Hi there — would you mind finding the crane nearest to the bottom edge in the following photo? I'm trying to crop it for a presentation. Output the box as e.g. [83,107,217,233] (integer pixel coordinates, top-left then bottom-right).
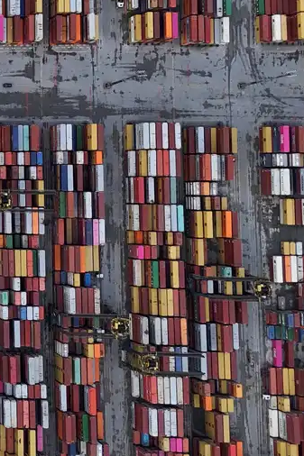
[111,336,206,379]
